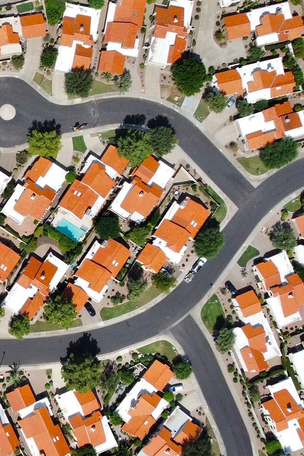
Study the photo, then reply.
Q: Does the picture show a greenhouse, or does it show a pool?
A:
pool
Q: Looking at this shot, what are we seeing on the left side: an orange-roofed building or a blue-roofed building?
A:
orange-roofed building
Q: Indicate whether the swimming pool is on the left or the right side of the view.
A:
left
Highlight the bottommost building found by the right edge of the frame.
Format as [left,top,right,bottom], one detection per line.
[257,378,304,455]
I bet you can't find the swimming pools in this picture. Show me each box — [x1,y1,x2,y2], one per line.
[56,217,85,243]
